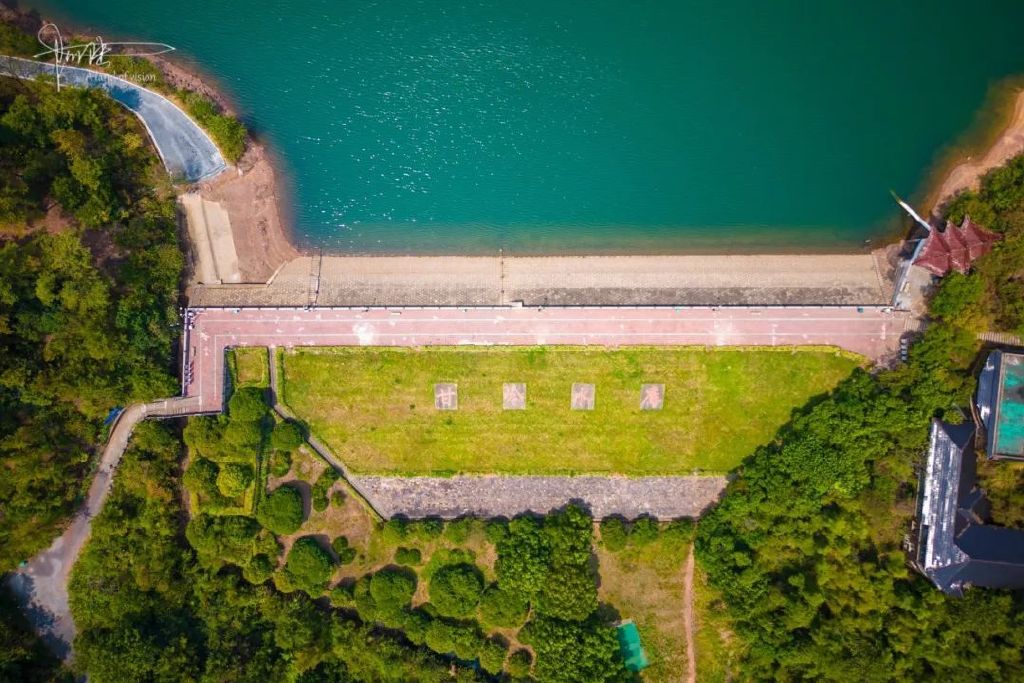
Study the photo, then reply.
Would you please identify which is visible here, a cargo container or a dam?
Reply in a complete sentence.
Looking from above, you can make out a dam.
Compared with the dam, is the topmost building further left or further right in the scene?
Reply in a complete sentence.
In the image, the topmost building sits on the right side of the dam.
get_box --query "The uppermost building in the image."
[906,213,1002,279]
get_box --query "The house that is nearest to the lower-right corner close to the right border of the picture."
[917,419,1024,597]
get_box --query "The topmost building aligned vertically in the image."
[975,348,1024,461]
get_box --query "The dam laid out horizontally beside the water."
[156,240,911,520]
